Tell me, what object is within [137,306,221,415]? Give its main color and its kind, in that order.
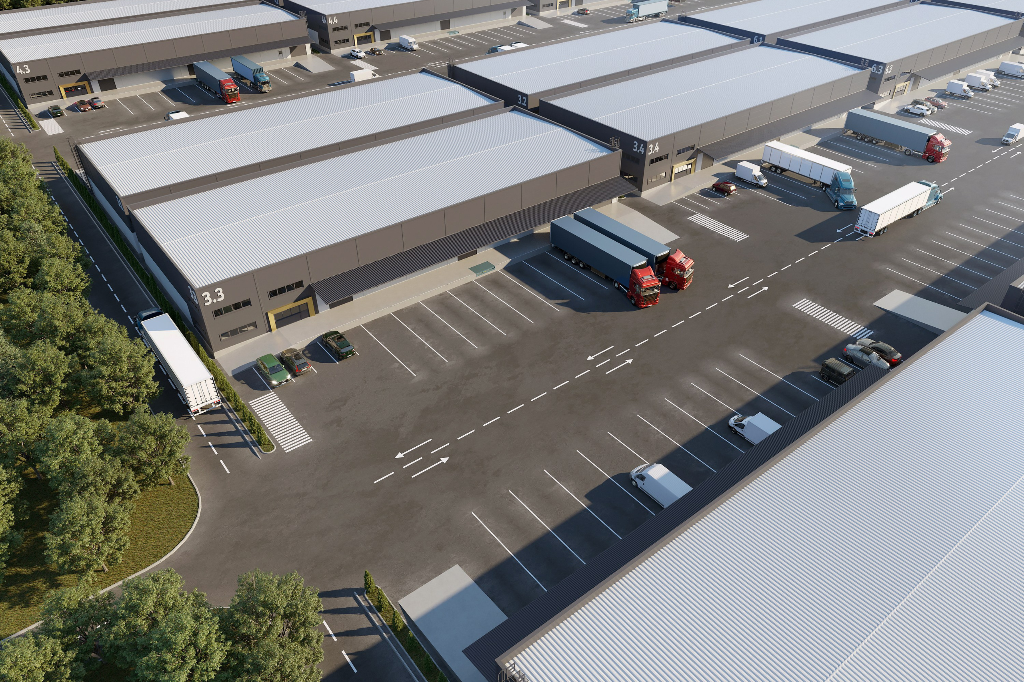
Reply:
white truck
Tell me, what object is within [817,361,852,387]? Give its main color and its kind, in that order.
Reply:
black car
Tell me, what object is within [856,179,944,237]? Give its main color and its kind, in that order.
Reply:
white truck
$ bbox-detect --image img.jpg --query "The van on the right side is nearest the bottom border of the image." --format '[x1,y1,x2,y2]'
[629,464,692,508]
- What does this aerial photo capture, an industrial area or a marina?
industrial area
